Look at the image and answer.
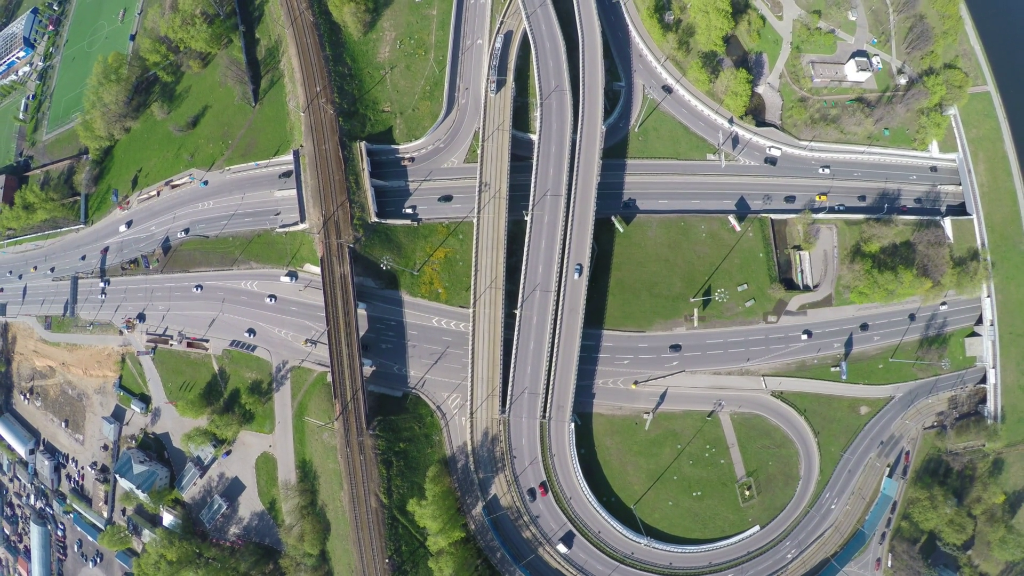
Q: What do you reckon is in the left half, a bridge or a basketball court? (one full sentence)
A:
There is a bridge in the left half.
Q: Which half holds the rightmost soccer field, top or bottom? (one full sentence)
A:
The rightmost soccer field sits in the top half of the picture.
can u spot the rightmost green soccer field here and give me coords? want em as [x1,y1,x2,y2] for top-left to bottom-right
[47,0,134,133]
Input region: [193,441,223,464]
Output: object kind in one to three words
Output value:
building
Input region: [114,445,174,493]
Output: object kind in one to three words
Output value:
house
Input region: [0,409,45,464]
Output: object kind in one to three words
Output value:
hangar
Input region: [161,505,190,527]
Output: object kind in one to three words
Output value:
shed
